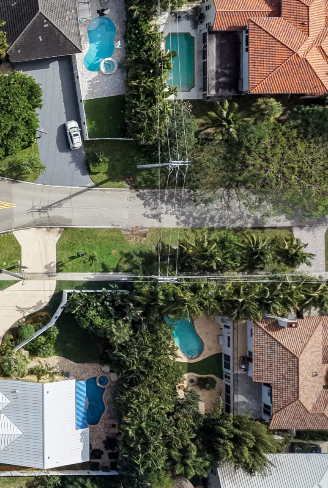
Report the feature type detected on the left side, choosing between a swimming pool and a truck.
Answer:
swimming pool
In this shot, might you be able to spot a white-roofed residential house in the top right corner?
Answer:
No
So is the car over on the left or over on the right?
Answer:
left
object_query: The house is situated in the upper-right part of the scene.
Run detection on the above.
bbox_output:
[202,0,328,95]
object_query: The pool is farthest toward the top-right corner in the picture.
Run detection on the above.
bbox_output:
[159,32,196,93]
